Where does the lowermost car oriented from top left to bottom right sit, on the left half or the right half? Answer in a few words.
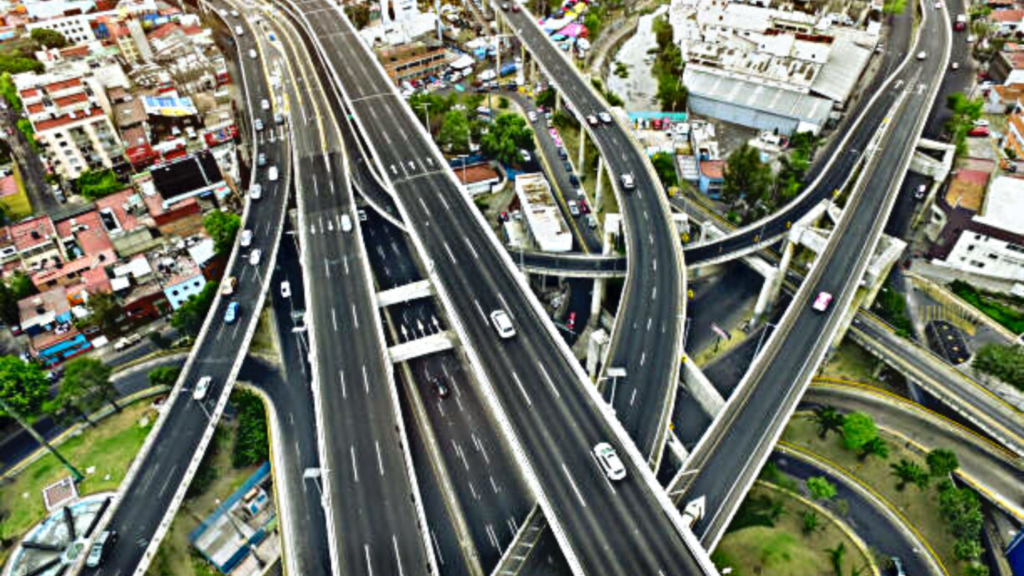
right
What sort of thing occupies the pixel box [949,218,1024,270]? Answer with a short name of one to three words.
building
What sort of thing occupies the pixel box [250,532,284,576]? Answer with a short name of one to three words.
house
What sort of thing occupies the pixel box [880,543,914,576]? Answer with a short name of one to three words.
car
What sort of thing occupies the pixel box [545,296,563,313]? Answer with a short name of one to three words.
car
